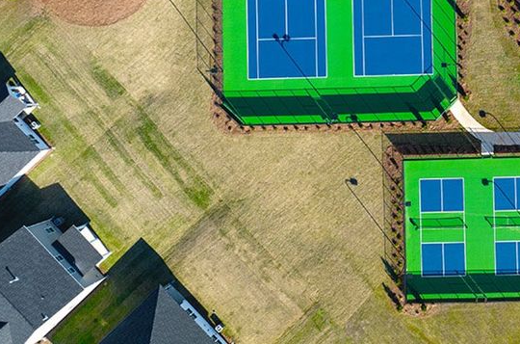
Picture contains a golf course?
No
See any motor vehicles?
No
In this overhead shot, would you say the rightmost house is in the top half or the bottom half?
bottom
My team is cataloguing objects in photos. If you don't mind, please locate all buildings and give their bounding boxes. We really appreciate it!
[0,218,116,344]
[100,281,233,344]
[0,74,50,199]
